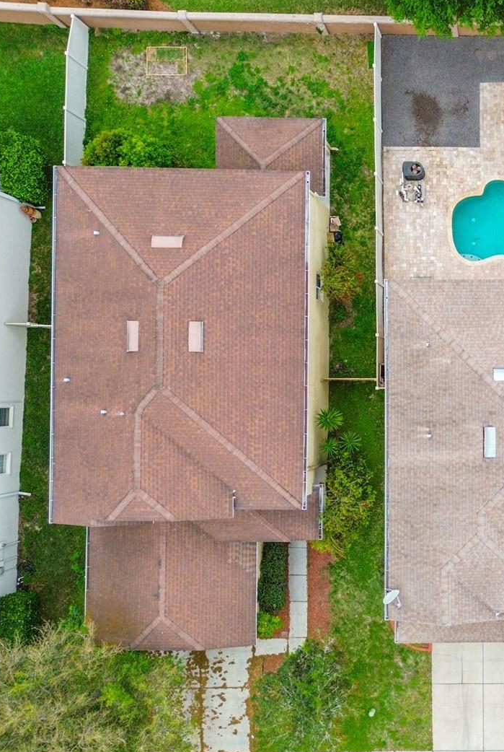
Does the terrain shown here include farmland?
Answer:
No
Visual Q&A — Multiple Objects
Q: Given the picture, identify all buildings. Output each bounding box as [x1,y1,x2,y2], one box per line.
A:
[384,277,504,644]
[50,116,344,658]
[0,205,45,613]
